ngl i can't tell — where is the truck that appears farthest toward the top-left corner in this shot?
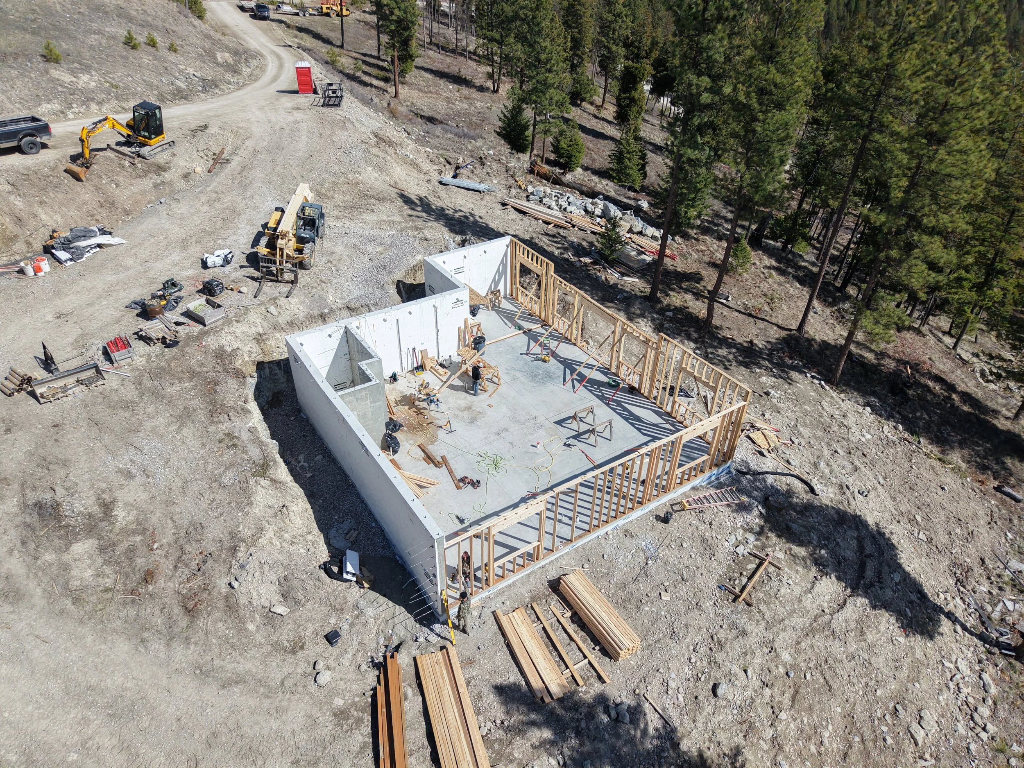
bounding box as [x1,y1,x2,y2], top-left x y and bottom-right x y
[0,118,55,153]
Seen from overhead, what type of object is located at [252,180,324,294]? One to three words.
work vehicle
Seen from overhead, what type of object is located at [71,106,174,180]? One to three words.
work vehicle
